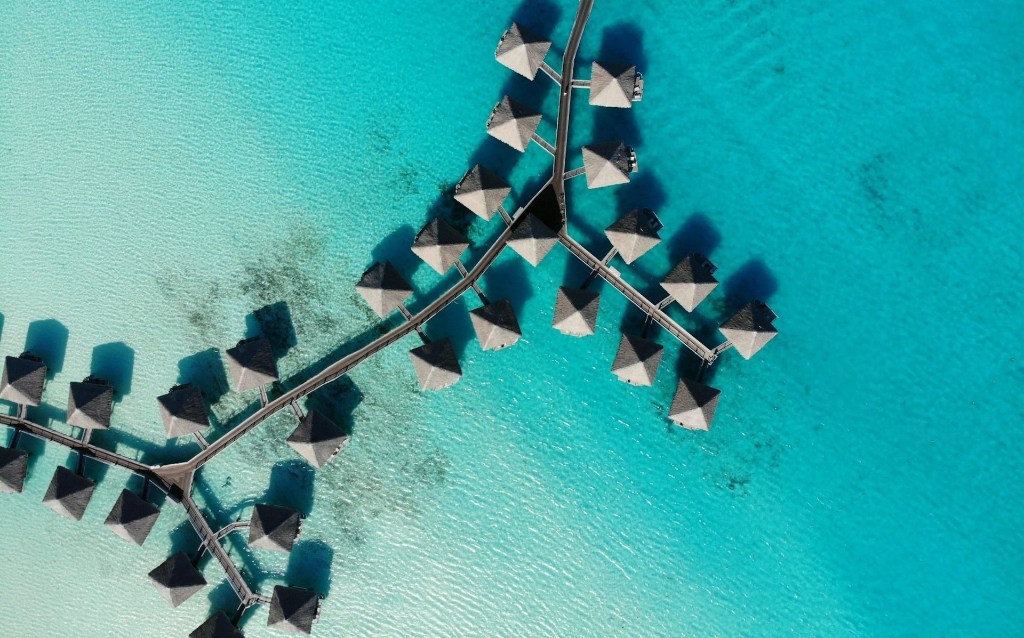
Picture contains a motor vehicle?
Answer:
No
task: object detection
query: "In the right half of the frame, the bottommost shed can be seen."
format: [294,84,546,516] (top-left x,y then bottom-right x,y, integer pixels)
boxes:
[667,377,721,431]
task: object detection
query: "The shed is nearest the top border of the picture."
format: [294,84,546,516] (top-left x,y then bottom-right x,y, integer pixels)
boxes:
[494,22,552,81]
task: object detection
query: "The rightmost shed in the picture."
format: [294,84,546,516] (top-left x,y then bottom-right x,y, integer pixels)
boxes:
[719,300,778,360]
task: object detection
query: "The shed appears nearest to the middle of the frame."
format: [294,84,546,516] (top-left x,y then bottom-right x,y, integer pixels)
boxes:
[467,296,524,352]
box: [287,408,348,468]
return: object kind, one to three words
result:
shed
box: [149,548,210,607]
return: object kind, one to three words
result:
shed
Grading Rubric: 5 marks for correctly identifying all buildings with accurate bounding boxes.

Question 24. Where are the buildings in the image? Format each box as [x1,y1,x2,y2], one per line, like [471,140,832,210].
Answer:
[287,408,348,468]
[156,383,210,439]
[0,444,35,494]
[609,332,664,387]
[485,95,544,152]
[355,258,415,319]
[494,22,552,81]
[226,336,280,391]
[249,503,305,553]
[0,353,52,408]
[719,300,778,360]
[408,336,464,391]
[41,465,100,521]
[467,296,524,352]
[453,163,512,222]
[579,139,639,190]
[659,252,720,313]
[552,286,602,338]
[66,376,117,429]
[667,377,721,431]
[268,585,324,634]
[588,60,644,110]
[602,206,664,266]
[103,488,163,546]
[410,216,471,276]
[188,611,249,638]
[149,548,210,607]
[506,213,560,267]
